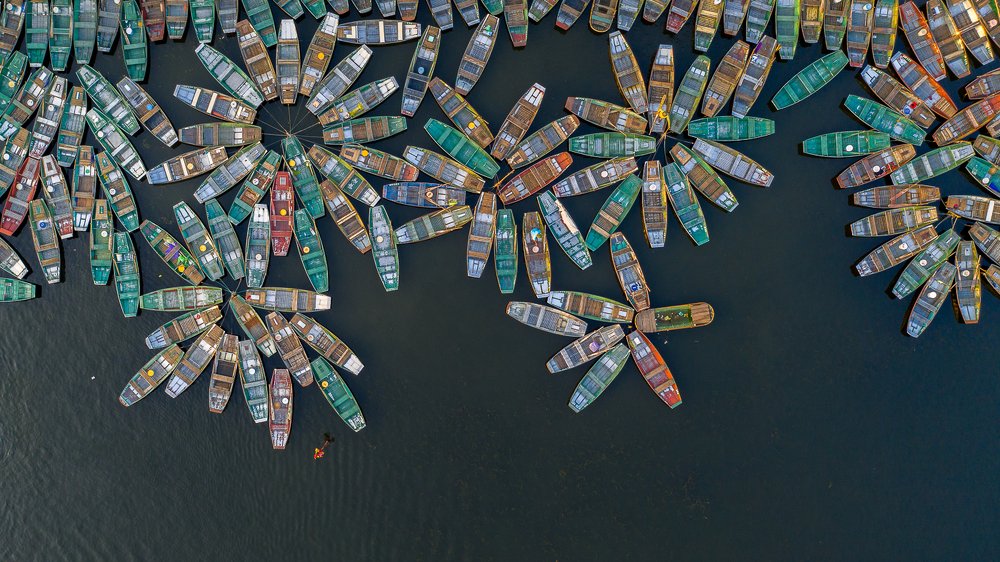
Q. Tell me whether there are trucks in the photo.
No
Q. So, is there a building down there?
No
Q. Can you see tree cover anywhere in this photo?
No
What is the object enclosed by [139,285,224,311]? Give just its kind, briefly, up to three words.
boat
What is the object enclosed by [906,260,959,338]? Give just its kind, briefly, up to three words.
boat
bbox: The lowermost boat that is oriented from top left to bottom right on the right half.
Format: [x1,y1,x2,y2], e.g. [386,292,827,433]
[627,329,682,409]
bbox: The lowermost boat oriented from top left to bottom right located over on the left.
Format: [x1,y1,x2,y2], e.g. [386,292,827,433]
[310,356,366,432]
